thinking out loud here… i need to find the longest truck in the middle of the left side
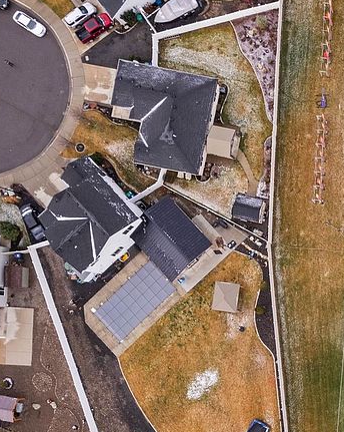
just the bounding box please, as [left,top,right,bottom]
[17,204,46,242]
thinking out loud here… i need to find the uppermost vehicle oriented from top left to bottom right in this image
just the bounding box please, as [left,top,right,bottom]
[9,7,43,35]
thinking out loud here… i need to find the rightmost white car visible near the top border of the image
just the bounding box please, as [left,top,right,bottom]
[62,1,97,26]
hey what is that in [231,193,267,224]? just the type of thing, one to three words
shed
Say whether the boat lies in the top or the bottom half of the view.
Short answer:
top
